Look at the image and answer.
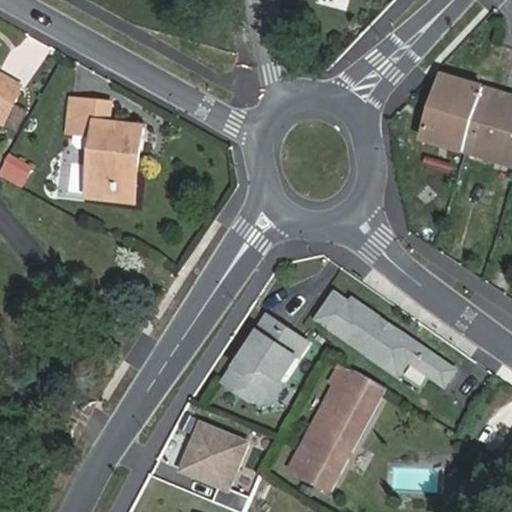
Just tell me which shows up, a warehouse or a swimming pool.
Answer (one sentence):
There is a swimming pool in the scene.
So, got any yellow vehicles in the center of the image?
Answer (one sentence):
No, in the center of the image there is no yellow vehicle.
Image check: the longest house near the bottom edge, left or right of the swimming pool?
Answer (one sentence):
Looking at the picture, you'll find the longest house near the bottom edge to the left of the swimming pool.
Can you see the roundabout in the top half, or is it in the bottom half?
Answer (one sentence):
The roundabout is in the top half of the image.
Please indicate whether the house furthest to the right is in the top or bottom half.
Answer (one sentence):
Seen from above, the house furthest to the right lies in the top half of the view.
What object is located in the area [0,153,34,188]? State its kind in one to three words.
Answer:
shed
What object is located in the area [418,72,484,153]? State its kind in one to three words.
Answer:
house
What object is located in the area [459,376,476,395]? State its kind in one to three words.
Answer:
car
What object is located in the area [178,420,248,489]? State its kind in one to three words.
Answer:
house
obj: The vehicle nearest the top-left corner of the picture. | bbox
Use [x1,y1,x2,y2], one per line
[30,8,52,25]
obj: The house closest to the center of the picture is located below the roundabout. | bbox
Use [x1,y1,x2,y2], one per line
[220,312,312,406]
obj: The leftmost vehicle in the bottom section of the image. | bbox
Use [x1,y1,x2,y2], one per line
[192,482,212,497]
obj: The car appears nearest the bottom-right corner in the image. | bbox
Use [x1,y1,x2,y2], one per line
[477,422,495,444]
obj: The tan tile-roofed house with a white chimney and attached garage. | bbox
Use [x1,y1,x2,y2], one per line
[64,96,148,206]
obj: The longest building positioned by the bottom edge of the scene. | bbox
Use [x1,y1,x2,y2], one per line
[288,365,384,492]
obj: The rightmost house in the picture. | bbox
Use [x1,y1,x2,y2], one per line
[464,86,512,166]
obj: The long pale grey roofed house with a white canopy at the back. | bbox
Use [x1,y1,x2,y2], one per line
[313,290,457,389]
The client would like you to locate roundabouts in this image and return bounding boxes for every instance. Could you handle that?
[242,74,386,248]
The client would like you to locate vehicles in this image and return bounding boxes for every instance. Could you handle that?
[286,296,306,315]
[477,422,495,444]
[192,482,212,497]
[266,288,286,306]
[30,8,52,25]
[459,376,476,395]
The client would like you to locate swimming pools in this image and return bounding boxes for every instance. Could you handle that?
[388,464,444,497]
